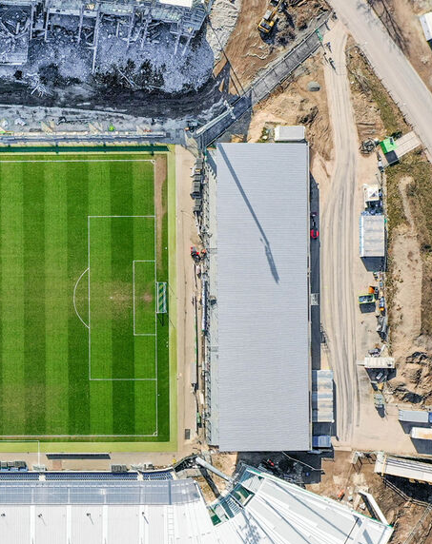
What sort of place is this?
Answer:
sports ground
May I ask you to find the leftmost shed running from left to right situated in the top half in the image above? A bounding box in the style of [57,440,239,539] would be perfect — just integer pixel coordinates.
[269,126,306,143]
